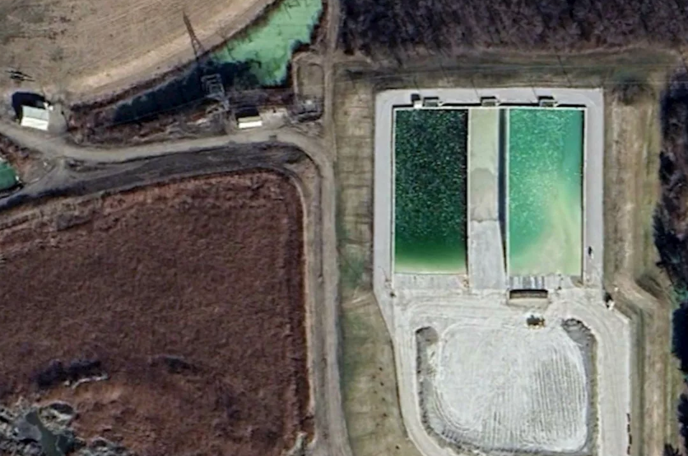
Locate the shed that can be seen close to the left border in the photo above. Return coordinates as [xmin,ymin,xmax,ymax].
[19,101,50,129]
